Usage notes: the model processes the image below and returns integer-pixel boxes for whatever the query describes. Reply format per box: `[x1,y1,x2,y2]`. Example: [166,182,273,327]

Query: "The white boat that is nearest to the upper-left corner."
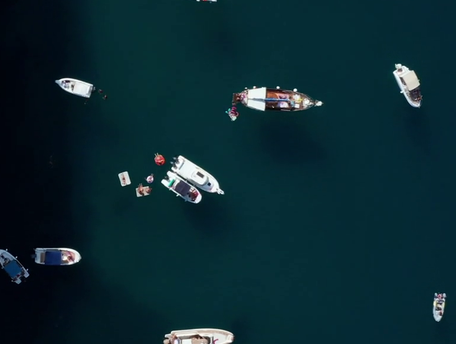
[53,79,96,98]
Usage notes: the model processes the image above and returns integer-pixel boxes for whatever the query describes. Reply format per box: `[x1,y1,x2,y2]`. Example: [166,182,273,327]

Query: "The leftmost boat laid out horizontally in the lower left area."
[30,248,81,269]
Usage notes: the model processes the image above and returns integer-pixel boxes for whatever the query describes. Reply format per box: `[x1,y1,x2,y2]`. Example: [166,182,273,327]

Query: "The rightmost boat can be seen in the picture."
[431,292,447,324]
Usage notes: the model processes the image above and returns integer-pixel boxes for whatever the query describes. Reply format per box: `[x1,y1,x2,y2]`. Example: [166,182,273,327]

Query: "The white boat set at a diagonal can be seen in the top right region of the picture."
[390,63,423,107]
